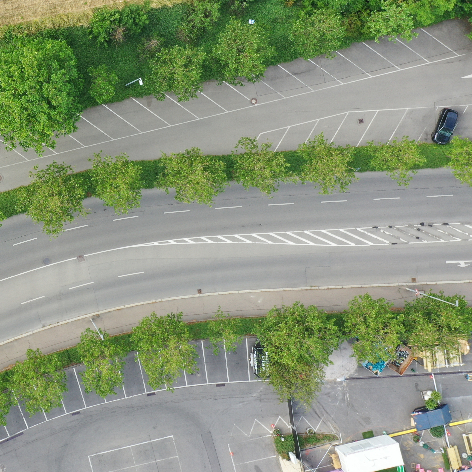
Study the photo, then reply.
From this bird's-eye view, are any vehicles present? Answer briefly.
Yes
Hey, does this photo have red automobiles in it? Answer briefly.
No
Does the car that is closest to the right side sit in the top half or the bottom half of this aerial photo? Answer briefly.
top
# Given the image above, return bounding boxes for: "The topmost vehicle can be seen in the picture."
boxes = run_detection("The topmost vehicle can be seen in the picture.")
[429,106,460,145]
